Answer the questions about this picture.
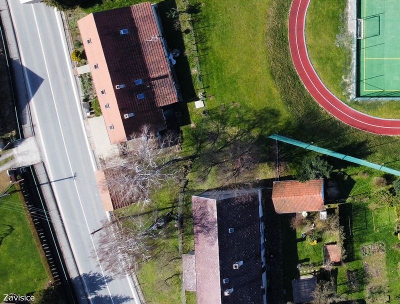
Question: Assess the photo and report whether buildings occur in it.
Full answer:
Yes, there's a building down there.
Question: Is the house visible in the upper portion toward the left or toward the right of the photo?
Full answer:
The house visible in the upper portion is on the left side of the image.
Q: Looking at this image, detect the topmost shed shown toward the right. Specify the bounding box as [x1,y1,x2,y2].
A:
[272,177,329,213]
